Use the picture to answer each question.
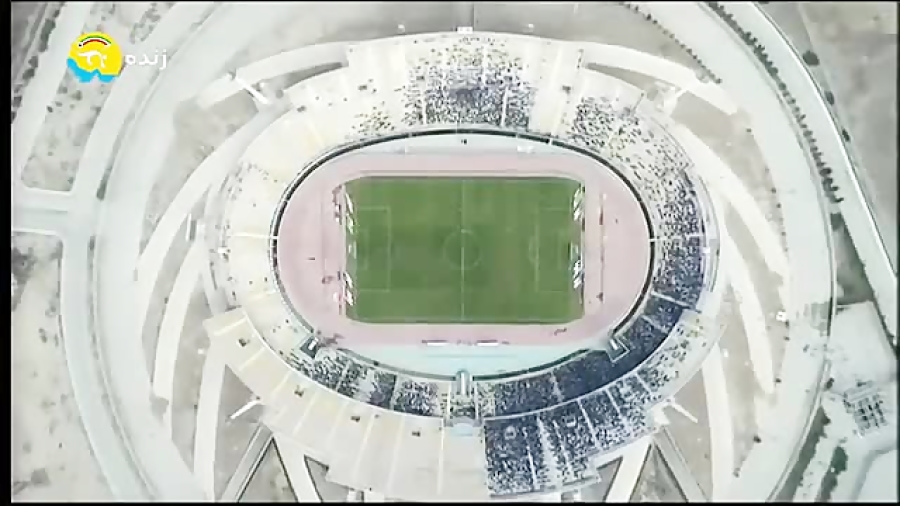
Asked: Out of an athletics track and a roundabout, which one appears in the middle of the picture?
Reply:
athletics track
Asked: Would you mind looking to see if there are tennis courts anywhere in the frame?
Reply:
No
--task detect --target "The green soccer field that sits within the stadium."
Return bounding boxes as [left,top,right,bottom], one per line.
[342,175,586,326]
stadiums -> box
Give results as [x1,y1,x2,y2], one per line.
[191,33,733,504]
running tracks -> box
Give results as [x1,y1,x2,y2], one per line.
[275,129,655,377]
